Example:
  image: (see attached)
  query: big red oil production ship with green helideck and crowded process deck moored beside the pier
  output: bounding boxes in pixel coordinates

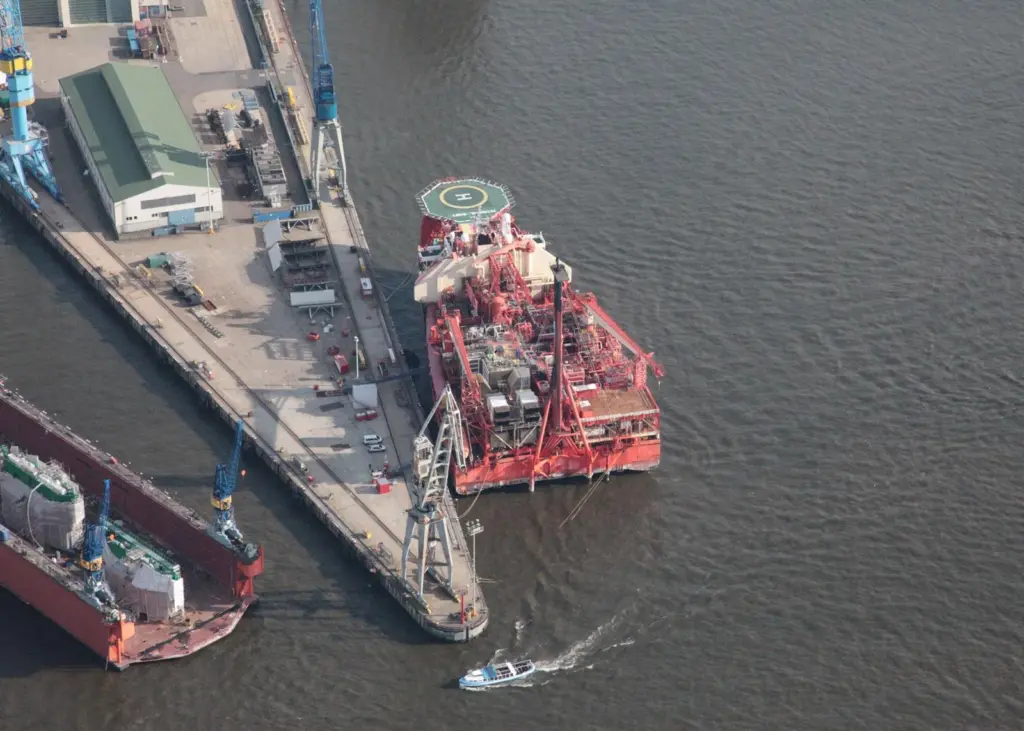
[407,175,667,494]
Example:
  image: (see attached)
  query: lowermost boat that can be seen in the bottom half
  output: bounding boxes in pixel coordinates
[460,655,538,688]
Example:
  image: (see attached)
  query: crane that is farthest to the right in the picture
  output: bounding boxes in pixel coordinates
[397,385,471,613]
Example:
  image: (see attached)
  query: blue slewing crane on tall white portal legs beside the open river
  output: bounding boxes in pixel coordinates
[305,0,350,198]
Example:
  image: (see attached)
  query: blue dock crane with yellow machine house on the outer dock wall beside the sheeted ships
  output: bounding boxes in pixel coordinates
[67,479,118,617]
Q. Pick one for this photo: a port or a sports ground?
port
